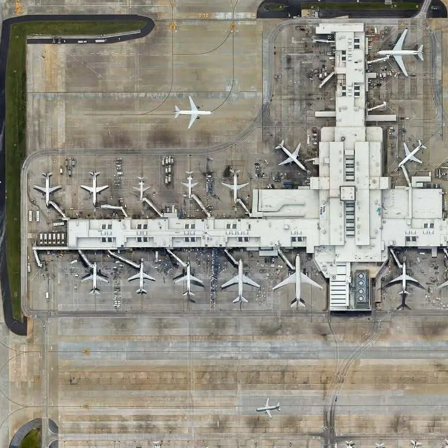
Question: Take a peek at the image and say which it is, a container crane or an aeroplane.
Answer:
aeroplane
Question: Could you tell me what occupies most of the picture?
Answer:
paved ground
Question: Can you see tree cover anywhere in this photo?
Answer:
No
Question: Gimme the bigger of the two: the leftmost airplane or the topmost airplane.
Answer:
the topmost airplane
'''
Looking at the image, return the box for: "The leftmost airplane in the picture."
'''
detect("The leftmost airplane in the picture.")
[34,172,62,206]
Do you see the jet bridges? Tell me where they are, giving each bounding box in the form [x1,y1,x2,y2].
[389,246,402,270]
[31,246,41,269]
[77,249,94,270]
[317,71,336,90]
[97,203,128,217]
[366,101,390,112]
[399,162,411,186]
[223,246,239,264]
[234,197,252,217]
[310,37,336,43]
[106,249,142,270]
[187,193,211,218]
[365,54,392,64]
[166,246,189,267]
[47,198,67,218]
[141,195,164,218]
[277,246,296,270]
